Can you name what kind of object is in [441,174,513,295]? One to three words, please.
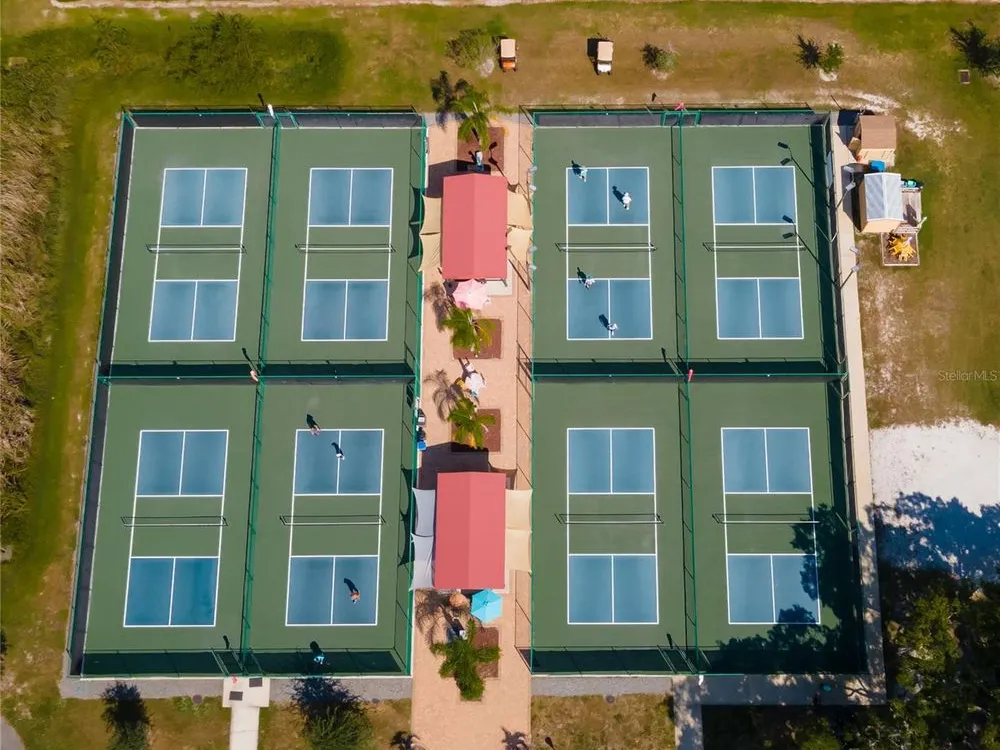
building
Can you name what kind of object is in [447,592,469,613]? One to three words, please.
umbrella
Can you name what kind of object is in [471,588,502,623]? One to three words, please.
umbrella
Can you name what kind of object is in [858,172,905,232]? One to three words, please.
shed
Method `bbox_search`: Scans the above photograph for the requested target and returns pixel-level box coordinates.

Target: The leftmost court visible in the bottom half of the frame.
[84,384,264,677]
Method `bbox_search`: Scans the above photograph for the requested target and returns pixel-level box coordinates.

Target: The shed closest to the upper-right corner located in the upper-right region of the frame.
[846,116,899,160]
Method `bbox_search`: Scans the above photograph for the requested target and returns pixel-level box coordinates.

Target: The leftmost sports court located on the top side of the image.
[111,126,279,381]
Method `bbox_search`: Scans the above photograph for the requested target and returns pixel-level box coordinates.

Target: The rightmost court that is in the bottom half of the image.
[688,383,867,674]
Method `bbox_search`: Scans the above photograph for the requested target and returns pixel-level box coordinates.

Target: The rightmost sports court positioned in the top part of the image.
[680,124,847,380]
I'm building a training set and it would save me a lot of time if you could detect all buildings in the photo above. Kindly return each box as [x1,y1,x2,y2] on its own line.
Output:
[858,172,905,232]
[435,471,511,596]
[846,116,899,160]
[441,174,513,295]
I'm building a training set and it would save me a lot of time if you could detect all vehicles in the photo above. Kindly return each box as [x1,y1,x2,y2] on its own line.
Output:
[596,41,615,76]
[499,38,518,74]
